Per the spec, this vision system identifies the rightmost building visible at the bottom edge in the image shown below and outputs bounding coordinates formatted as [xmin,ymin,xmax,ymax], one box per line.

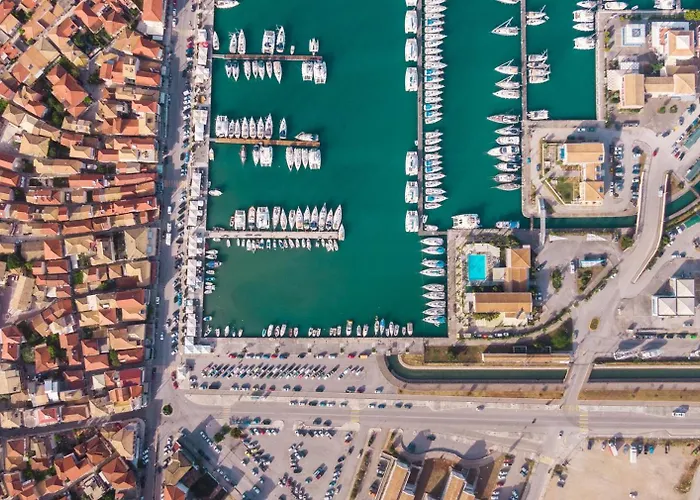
[439,460,481,500]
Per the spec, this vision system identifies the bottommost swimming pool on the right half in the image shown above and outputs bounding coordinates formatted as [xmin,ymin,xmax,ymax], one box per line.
[464,242,500,288]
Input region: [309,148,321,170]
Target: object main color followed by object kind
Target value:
white boat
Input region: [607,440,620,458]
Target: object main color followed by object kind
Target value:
white vehicle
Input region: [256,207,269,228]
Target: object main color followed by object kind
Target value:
white boat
